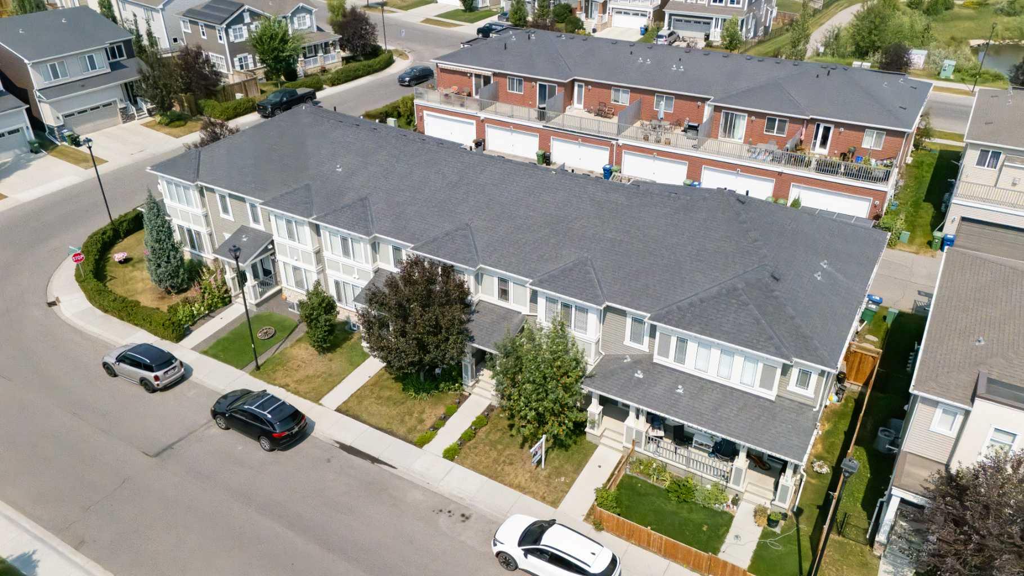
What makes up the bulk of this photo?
buildings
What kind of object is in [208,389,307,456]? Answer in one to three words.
car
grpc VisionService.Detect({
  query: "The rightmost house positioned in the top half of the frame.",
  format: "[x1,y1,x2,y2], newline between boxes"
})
[942,80,1024,258]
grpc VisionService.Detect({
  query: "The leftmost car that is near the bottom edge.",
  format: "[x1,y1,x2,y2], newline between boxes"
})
[485,516,625,576]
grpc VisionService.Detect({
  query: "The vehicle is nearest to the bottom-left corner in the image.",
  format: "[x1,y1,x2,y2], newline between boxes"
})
[103,341,184,397]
